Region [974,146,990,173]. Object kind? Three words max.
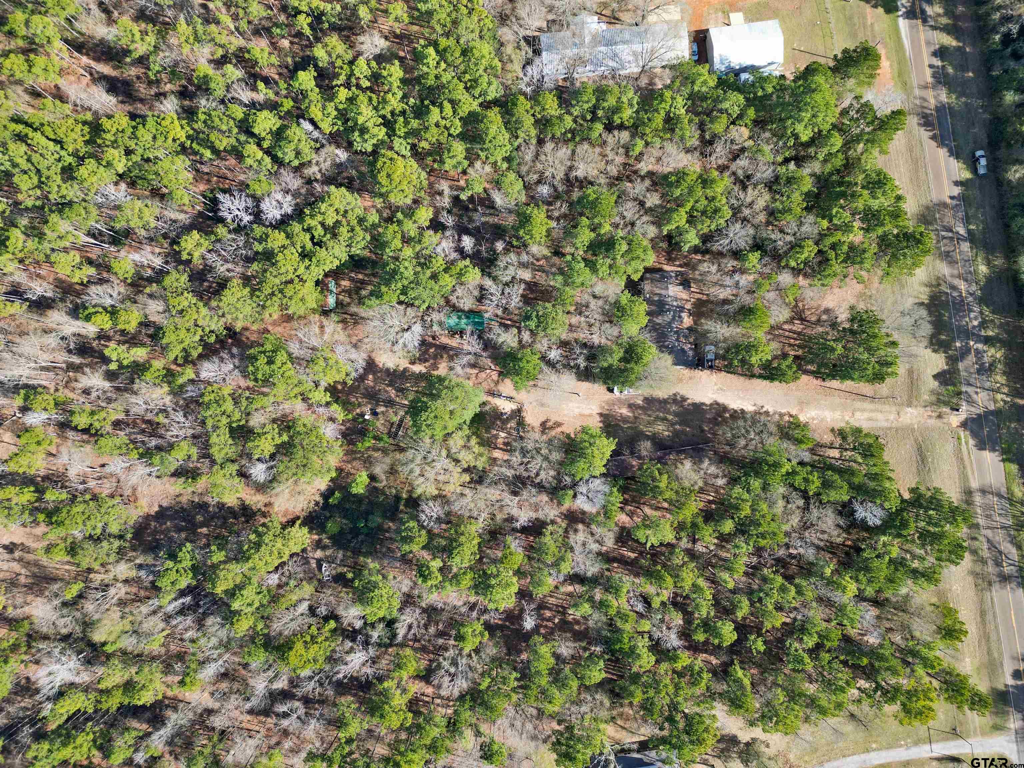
vehicle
